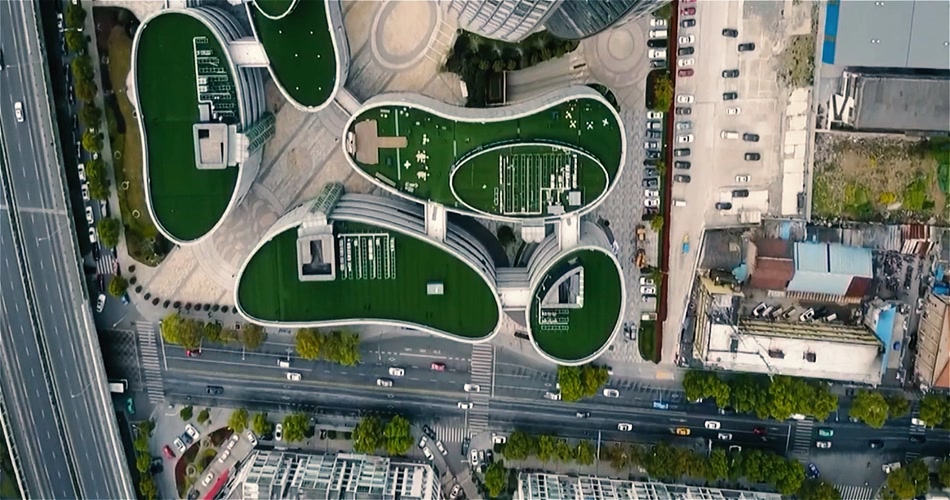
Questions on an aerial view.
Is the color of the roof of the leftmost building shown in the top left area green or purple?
green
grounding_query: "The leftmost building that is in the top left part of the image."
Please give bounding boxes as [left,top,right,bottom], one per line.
[132,8,282,246]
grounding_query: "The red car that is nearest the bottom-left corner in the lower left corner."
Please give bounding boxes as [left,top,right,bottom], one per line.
[161,444,175,458]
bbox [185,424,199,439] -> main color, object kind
white car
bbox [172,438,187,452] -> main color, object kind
white vehicle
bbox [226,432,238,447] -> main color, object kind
white vehicle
